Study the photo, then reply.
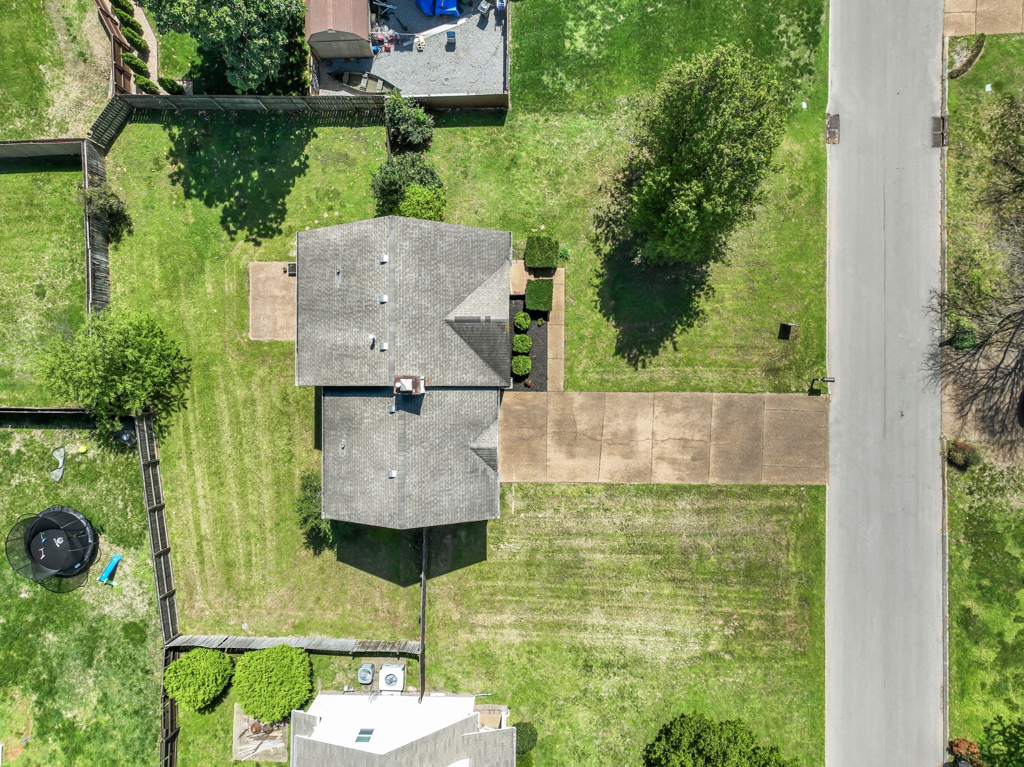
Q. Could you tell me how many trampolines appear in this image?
1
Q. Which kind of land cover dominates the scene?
grass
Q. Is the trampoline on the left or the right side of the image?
left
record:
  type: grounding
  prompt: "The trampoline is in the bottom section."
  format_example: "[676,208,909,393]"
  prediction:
[4,503,108,587]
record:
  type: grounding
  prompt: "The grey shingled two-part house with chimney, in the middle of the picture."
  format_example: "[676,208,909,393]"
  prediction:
[295,215,535,531]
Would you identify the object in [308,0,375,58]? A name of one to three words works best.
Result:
shed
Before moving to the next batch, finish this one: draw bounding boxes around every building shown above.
[295,215,535,531]
[308,0,375,58]
[291,684,517,767]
